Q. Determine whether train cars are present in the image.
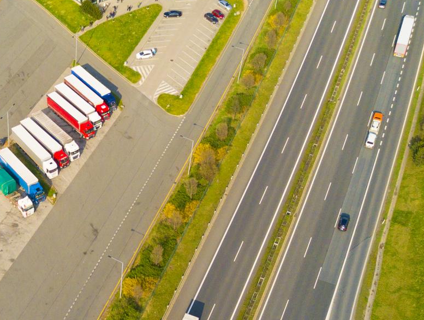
No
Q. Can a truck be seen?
Yes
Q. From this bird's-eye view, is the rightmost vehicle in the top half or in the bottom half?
top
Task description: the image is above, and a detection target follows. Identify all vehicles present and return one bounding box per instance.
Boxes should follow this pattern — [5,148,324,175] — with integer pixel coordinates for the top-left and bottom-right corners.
[373,115,384,128]
[182,314,198,320]
[71,66,118,113]
[379,0,387,7]
[0,148,46,205]
[338,213,350,230]
[12,126,60,180]
[217,0,232,11]
[365,132,377,146]
[32,111,81,162]
[20,118,70,172]
[54,83,103,131]
[136,48,156,59]
[47,92,96,142]
[164,10,182,17]
[0,163,35,215]
[394,15,414,55]
[205,13,218,23]
[64,76,112,124]
[211,9,225,19]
